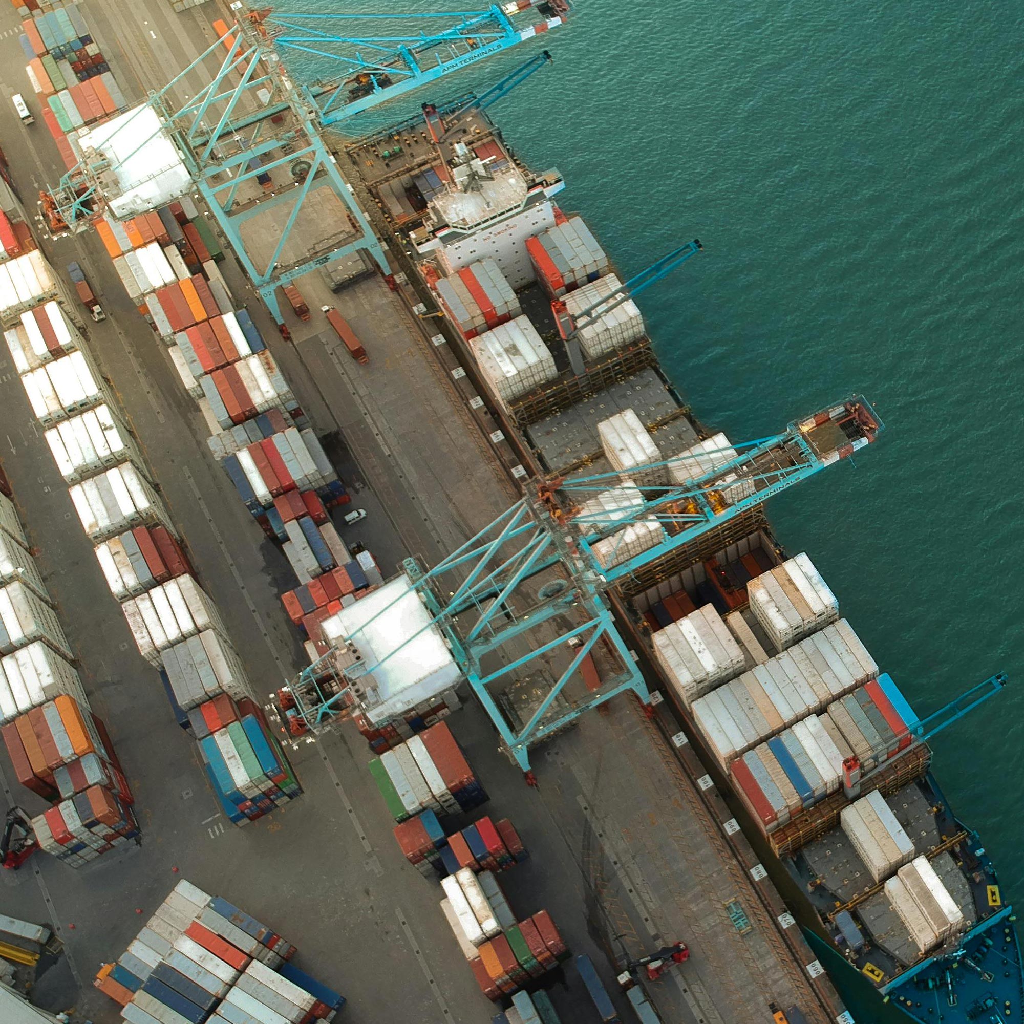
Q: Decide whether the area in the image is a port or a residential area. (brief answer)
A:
port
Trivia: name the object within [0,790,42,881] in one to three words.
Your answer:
work vehicle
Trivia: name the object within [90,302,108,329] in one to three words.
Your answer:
vehicle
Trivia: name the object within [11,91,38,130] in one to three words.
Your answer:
truck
